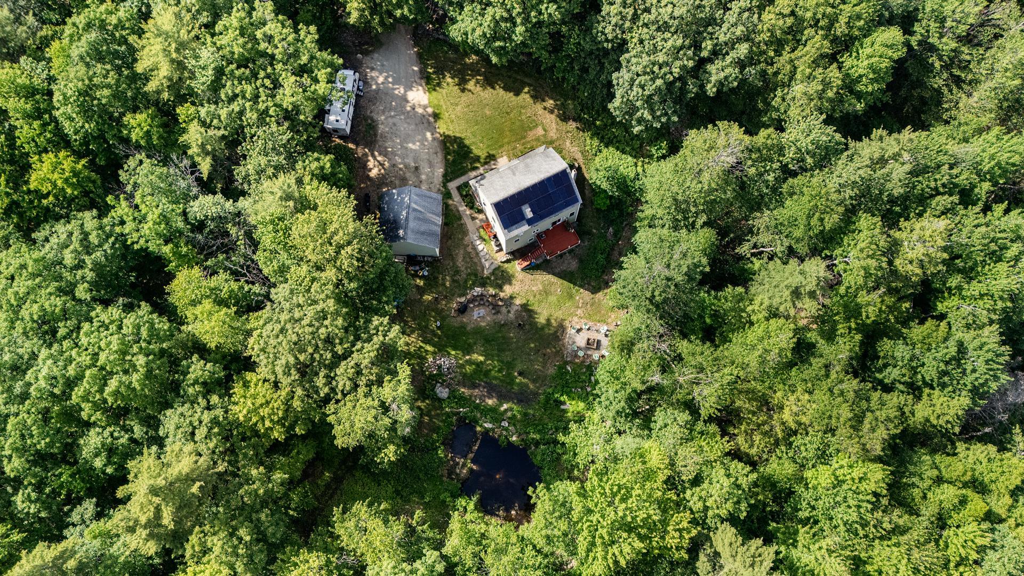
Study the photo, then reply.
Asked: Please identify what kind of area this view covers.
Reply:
forest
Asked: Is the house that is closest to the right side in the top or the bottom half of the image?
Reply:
top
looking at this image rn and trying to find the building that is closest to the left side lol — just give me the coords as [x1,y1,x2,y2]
[375,184,443,256]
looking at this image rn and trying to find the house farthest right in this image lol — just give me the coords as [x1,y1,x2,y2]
[469,146,583,254]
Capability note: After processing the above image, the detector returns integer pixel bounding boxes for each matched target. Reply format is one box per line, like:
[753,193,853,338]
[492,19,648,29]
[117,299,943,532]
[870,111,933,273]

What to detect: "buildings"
[469,146,583,254]
[375,184,443,256]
